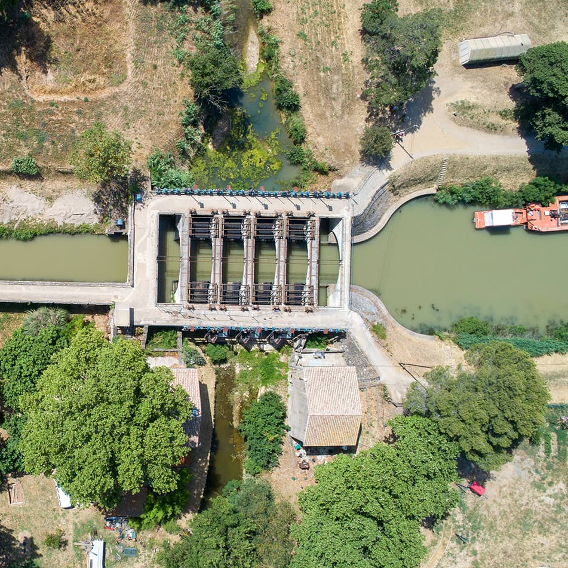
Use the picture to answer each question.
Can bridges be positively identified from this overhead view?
Yes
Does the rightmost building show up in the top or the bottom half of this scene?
top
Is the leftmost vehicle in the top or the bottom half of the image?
bottom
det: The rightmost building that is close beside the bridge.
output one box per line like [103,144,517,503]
[297,366,362,446]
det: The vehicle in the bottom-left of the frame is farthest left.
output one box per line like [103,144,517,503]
[53,479,73,510]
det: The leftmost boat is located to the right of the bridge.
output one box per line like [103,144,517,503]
[469,208,527,230]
